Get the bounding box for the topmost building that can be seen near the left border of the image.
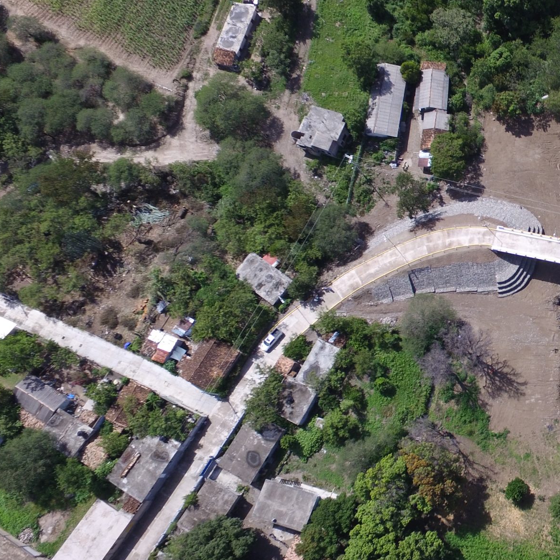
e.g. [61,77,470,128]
[0,315,29,344]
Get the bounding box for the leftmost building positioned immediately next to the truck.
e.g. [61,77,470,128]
[179,340,245,390]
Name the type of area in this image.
residential area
